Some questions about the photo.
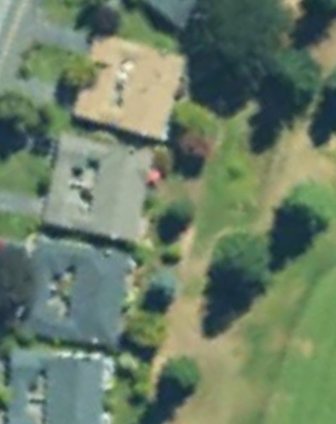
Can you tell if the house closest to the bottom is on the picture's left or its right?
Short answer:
left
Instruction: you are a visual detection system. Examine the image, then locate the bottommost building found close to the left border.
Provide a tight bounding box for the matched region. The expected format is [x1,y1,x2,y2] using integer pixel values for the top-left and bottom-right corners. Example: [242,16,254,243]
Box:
[8,349,113,424]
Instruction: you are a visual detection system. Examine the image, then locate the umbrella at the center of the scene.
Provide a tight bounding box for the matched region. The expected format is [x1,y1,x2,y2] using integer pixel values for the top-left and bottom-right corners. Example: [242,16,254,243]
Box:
[146,168,160,182]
